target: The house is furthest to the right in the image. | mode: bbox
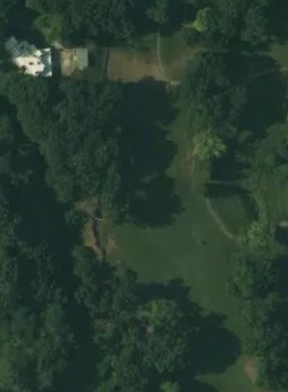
[56,40,88,75]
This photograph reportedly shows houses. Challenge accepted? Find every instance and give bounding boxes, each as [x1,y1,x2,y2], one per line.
[11,39,51,77]
[56,40,88,75]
